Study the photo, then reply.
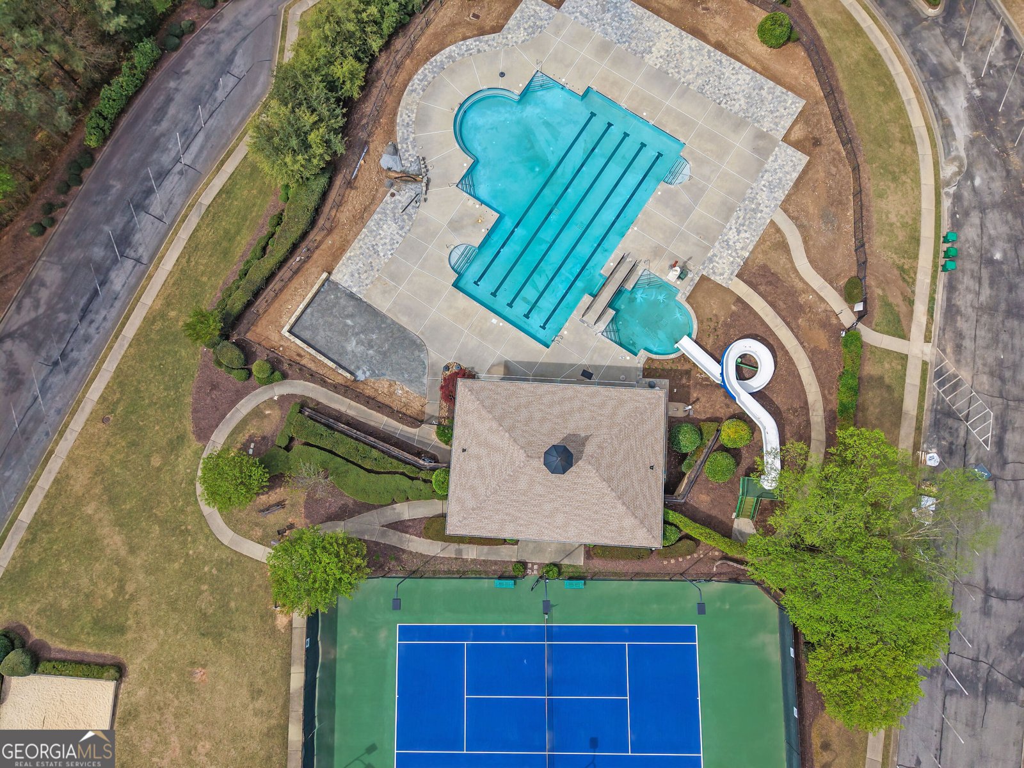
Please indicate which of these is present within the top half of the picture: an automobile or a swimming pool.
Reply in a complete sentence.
The feature located within the top half of the picture is a swimming pool.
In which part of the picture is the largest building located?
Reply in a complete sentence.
The largest building is located in the center region of the scene.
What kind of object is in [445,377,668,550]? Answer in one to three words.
building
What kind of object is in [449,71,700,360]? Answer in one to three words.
swimming pool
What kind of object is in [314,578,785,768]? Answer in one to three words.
tennis court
